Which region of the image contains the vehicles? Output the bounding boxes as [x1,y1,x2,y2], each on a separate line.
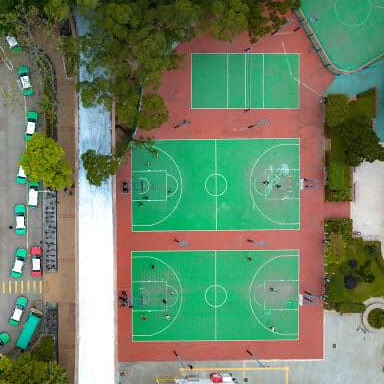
[0,27,23,55]
[18,66,33,96]
[27,180,40,209]
[25,111,38,141]
[11,248,26,278]
[14,204,26,234]
[30,246,42,275]
[16,155,28,184]
[9,296,27,327]
[15,305,45,350]
[0,331,10,347]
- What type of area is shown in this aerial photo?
sports ground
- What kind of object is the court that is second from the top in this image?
basketball court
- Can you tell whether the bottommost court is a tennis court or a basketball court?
basketball court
